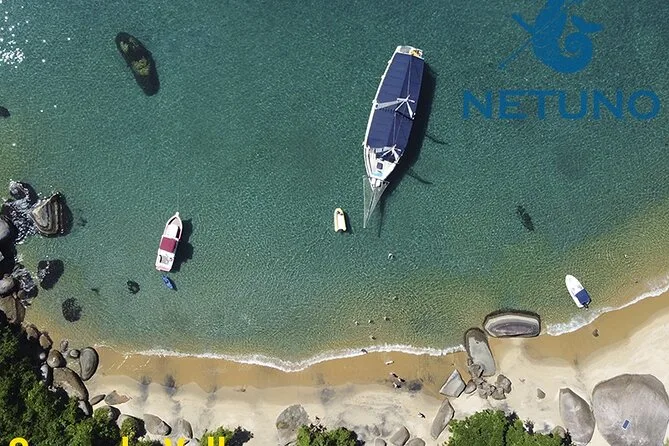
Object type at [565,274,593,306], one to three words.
boat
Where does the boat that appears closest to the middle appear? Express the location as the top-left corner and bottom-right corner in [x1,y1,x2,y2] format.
[334,208,347,232]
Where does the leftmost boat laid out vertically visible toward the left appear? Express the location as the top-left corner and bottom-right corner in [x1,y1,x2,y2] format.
[155,211,182,274]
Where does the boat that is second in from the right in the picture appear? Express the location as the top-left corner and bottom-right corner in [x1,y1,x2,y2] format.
[365,46,425,229]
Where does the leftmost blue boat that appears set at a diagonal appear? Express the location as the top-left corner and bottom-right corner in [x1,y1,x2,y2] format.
[160,274,174,289]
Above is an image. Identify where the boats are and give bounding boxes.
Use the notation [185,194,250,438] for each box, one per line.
[565,274,593,306]
[365,46,425,229]
[155,211,182,274]
[160,274,174,289]
[334,208,347,232]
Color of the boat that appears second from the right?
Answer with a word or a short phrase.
blue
